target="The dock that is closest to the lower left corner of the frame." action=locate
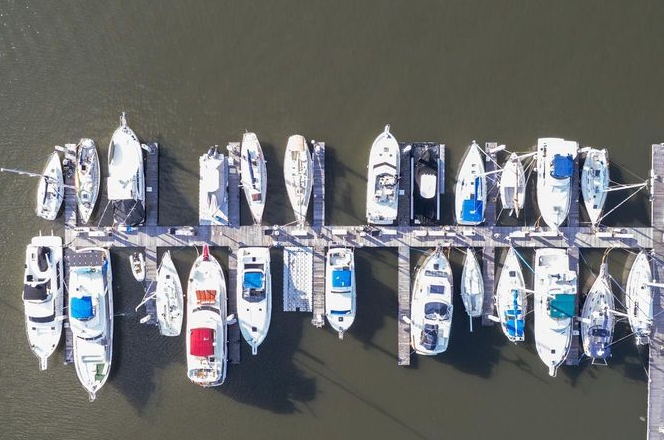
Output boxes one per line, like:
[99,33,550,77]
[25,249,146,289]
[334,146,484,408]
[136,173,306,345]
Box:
[63,247,75,365]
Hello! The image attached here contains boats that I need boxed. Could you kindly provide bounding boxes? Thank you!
[129,251,146,293]
[234,244,275,355]
[531,140,578,238]
[409,244,454,357]
[577,141,649,229]
[494,245,551,341]
[136,246,187,335]
[495,148,539,228]
[24,231,68,371]
[623,247,664,381]
[1,152,68,224]
[98,112,149,228]
[200,149,226,219]
[453,142,507,228]
[281,135,315,230]
[321,238,359,340]
[458,247,484,332]
[365,125,401,228]
[27,245,117,401]
[579,246,652,370]
[44,138,102,227]
[528,245,576,376]
[239,132,269,228]
[184,244,230,385]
